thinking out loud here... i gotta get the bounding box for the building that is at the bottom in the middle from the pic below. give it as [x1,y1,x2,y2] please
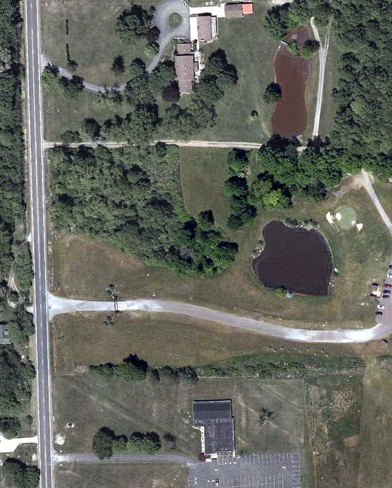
[192,400,234,461]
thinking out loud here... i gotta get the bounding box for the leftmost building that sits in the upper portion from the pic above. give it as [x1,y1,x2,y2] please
[174,37,199,93]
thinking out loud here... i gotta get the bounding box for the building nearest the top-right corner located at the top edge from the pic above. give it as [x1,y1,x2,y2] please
[224,2,253,17]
